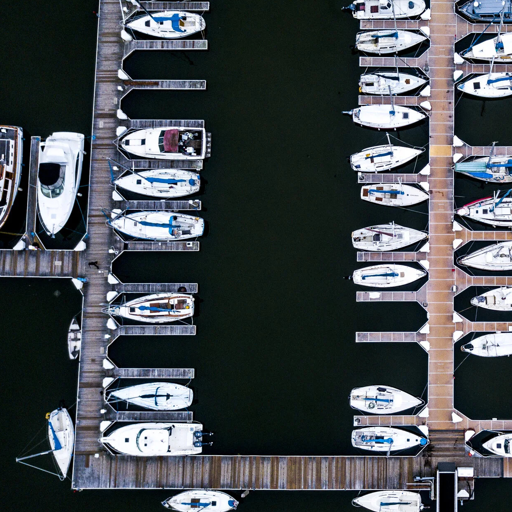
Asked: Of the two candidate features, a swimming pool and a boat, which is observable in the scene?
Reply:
boat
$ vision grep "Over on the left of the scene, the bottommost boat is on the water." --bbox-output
[163,490,240,512]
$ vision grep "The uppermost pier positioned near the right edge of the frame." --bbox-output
[353,0,512,437]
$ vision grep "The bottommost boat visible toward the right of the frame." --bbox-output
[350,490,433,512]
